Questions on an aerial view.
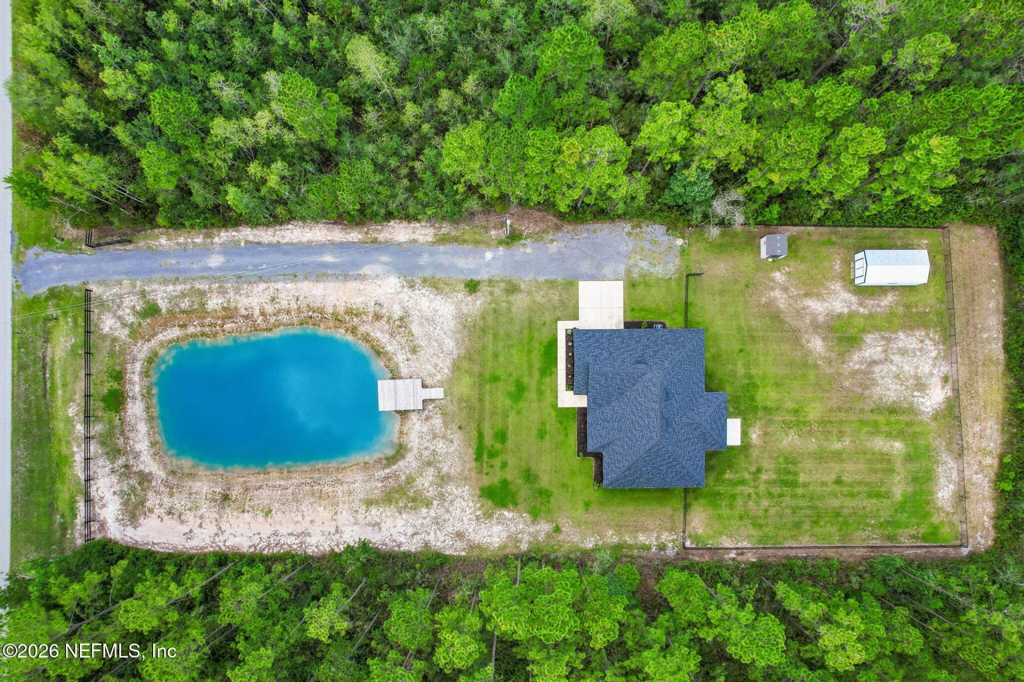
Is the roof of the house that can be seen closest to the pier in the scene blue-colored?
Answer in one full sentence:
Yes, the roof of the house that can be seen closest to the pier appears blue.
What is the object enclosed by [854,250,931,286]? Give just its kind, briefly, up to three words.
shed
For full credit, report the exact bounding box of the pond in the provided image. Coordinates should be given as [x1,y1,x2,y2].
[159,329,396,468]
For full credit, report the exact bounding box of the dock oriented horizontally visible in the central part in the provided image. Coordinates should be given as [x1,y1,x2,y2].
[377,379,443,411]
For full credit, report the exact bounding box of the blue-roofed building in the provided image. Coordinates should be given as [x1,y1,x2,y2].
[573,328,727,488]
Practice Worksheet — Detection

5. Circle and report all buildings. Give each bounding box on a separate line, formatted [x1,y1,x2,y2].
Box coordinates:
[573,328,727,488]
[761,234,788,259]
[854,250,931,286]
